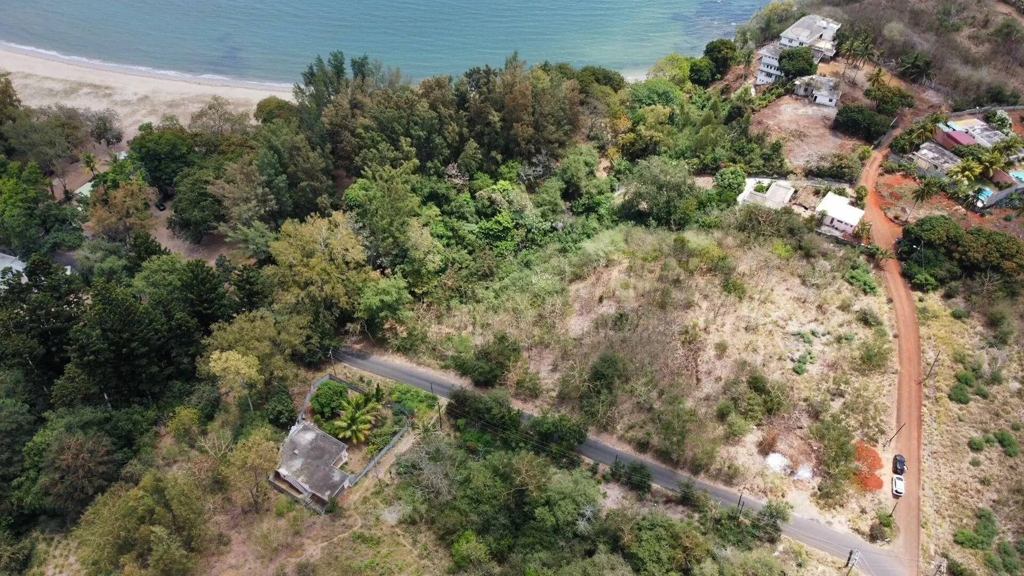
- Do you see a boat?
No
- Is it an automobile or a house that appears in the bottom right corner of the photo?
automobile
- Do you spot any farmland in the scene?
No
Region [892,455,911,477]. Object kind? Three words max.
car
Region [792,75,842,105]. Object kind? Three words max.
building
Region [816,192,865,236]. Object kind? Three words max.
house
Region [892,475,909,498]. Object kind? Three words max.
car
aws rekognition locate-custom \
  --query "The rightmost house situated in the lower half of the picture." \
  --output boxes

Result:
[268,420,351,505]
